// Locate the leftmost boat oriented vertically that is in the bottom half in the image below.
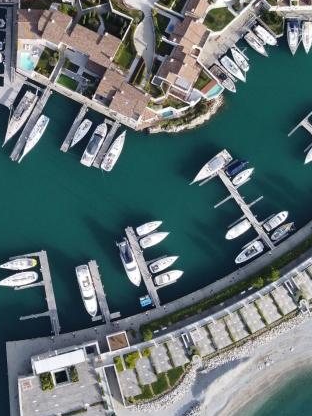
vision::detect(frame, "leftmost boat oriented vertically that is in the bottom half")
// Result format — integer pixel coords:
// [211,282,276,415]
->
[76,262,97,318]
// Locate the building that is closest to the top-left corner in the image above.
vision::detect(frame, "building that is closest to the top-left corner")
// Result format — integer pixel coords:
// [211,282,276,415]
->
[16,8,46,43]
